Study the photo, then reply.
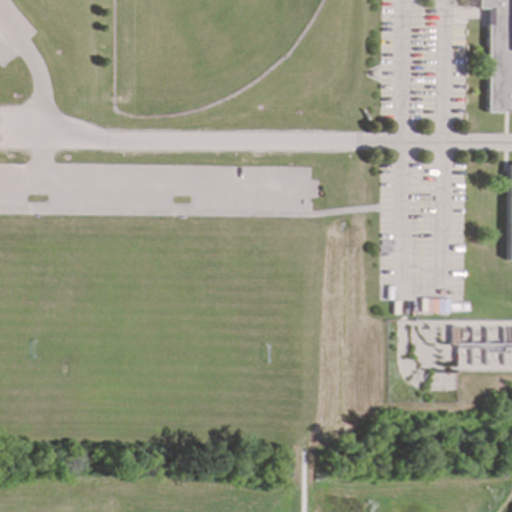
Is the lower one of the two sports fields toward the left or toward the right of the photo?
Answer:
left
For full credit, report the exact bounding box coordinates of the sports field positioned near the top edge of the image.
[117,0,321,114]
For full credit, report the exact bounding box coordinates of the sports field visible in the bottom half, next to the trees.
[26,268,274,430]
